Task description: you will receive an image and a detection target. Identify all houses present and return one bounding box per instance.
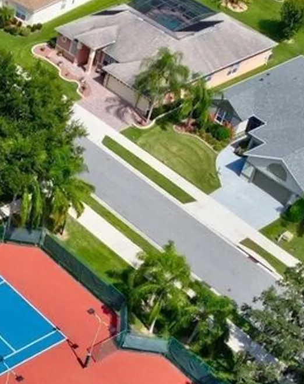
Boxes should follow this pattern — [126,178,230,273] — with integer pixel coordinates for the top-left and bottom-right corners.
[205,55,304,206]
[0,0,90,24]
[56,2,278,114]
